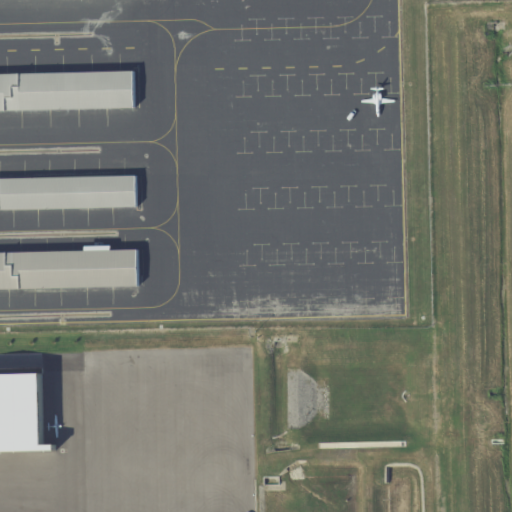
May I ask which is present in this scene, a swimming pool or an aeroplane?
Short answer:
aeroplane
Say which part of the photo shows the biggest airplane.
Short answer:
top right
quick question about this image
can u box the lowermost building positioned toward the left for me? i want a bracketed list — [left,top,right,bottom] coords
[0,368,57,452]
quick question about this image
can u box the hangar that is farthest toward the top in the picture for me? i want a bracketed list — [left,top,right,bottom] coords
[0,70,137,110]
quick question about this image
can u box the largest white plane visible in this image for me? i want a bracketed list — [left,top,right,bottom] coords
[362,88,395,118]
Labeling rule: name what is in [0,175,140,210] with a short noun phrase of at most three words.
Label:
hangar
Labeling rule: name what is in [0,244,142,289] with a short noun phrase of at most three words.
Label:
hangar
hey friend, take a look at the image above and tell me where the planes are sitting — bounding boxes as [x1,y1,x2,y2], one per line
[49,416,63,438]
[362,88,395,118]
